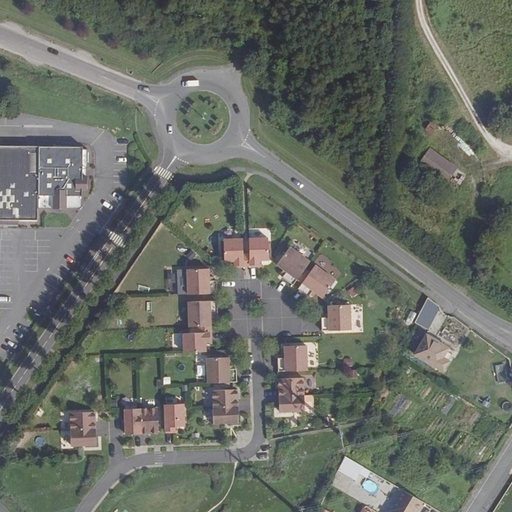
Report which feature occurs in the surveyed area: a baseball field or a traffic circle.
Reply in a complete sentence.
This aerial view contains a traffic circle.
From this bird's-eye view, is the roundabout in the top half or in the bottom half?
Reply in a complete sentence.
Seen from above, the roundabout lies in the top half of the view.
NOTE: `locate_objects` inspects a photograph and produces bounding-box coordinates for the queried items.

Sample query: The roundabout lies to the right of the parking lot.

[138,66,258,173]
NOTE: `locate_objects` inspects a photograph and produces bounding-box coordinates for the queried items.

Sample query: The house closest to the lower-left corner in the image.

[60,412,102,450]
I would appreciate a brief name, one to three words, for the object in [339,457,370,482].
building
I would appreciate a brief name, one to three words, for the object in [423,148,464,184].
barn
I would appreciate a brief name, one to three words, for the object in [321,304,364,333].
house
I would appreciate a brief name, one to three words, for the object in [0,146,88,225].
building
